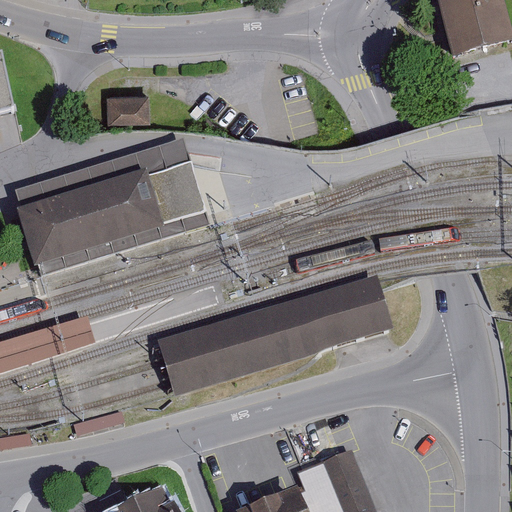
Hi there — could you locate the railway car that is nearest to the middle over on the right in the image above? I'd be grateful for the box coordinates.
[294,242,376,274]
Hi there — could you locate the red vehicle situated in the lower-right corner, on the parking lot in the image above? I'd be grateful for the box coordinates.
[416,434,436,456]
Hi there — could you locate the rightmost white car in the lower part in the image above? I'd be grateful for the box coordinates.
[395,418,410,440]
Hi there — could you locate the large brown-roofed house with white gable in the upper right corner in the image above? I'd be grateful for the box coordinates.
[438,0,512,56]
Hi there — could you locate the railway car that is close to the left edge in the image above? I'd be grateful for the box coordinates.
[0,298,49,324]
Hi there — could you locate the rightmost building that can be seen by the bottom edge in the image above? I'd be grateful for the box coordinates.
[298,450,376,512]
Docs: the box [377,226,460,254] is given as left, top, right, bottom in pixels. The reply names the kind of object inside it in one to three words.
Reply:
rail car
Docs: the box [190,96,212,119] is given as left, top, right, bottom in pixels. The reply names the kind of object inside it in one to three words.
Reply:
vehicle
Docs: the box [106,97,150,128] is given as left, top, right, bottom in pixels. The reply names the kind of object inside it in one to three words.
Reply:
shed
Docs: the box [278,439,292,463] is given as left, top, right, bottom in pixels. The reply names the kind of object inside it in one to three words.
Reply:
car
